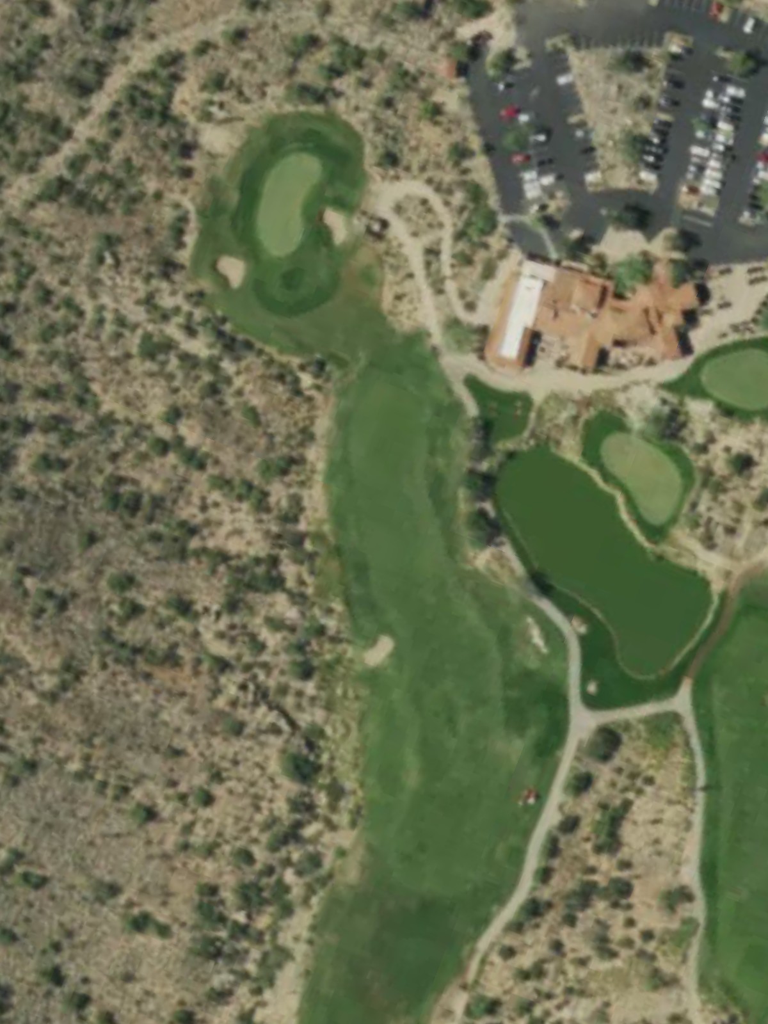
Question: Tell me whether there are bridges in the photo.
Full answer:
No, the picture doesn't show any bridge.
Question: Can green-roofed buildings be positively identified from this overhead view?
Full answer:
No, no green-roofed building can be seen from above.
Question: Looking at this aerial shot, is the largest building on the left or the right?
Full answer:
The largest building sits on the right side.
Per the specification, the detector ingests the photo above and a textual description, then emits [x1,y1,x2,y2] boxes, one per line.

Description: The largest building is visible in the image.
[486,258,704,372]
